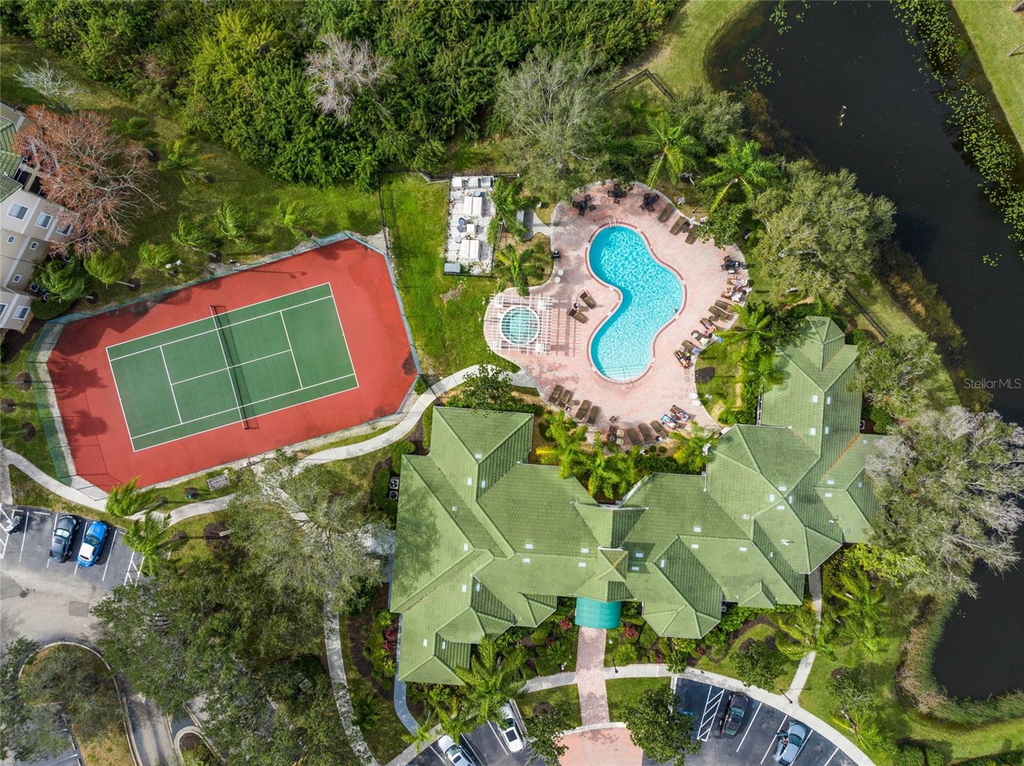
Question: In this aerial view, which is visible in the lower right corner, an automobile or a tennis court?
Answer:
automobile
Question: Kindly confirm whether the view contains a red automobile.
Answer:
No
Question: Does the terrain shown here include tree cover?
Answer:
Yes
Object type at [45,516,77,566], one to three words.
car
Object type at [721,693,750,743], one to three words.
car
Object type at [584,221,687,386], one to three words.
swimming pool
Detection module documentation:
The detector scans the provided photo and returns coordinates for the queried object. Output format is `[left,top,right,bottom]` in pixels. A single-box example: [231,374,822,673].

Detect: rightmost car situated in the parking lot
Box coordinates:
[776,722,808,766]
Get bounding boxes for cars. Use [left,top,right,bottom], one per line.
[495,705,526,754]
[776,722,808,766]
[435,735,472,766]
[721,693,750,743]
[45,516,77,566]
[73,521,106,570]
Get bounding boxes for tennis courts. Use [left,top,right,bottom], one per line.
[48,239,418,495]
